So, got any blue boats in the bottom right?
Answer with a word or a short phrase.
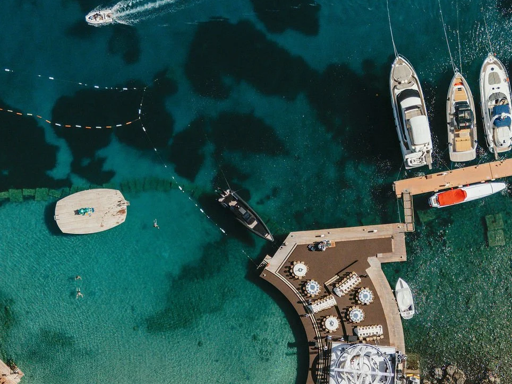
No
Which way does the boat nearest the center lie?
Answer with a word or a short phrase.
on a diagonal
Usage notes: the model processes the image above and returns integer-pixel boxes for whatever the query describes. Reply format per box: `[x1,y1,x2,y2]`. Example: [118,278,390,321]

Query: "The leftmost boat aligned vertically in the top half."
[389,55,432,178]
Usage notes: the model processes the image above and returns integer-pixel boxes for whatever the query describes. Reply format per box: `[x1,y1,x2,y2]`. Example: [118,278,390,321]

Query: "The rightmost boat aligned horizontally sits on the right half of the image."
[424,181,507,210]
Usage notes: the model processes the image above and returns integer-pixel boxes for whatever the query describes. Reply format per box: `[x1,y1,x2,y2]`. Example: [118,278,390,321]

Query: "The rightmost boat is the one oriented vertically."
[478,52,512,163]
